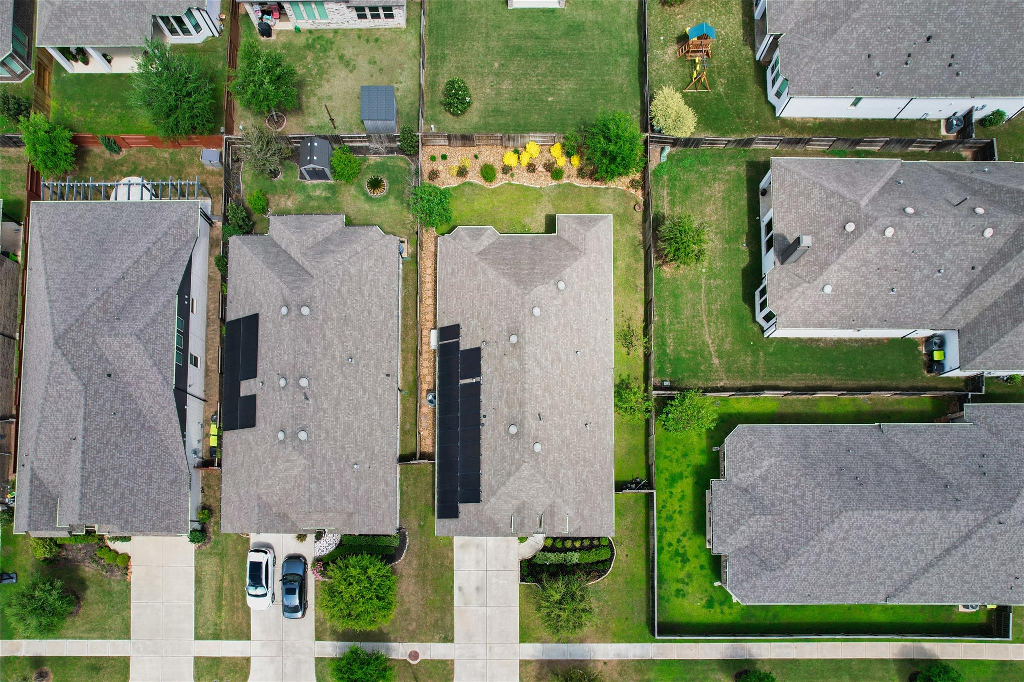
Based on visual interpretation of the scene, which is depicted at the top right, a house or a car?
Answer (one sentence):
The one visible at the top right is a house.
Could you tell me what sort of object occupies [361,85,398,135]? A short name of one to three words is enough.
shed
